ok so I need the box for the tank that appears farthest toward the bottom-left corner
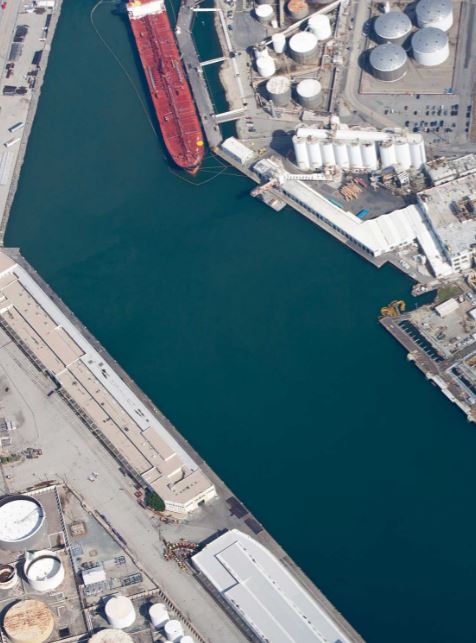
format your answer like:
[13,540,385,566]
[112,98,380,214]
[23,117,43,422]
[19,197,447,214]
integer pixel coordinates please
[4,598,57,643]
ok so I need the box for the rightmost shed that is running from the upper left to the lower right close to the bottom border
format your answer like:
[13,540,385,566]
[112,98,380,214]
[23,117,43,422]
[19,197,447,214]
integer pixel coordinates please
[188,529,350,643]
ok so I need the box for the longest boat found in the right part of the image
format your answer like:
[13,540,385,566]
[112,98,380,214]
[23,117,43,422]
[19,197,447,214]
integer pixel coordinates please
[411,284,438,298]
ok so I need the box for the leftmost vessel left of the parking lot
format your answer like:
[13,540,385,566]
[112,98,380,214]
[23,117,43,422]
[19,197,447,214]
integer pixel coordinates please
[122,0,210,176]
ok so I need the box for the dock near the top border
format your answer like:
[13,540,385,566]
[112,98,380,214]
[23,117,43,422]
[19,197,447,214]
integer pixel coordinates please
[176,0,221,147]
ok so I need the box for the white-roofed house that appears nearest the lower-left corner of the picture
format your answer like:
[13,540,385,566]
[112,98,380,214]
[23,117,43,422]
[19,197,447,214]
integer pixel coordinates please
[82,567,108,588]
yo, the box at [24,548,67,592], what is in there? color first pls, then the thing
white storage tank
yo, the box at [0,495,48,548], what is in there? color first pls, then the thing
white storage tank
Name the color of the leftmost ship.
red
